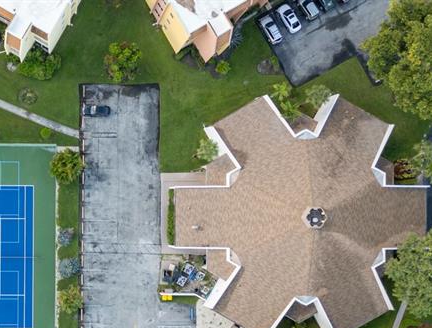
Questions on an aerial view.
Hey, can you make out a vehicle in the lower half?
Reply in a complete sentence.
No, I see no vehicle in the lower half.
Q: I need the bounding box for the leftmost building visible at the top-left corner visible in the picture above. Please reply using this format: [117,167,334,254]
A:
[0,0,93,62]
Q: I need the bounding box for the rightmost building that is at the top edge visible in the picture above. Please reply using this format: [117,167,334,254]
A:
[144,0,262,61]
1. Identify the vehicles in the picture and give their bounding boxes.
[260,16,283,46]
[295,0,319,23]
[277,5,299,34]
[317,0,334,11]
[83,104,112,117]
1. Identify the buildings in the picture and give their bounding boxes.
[0,0,93,62]
[168,89,431,328]
[144,0,262,61]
